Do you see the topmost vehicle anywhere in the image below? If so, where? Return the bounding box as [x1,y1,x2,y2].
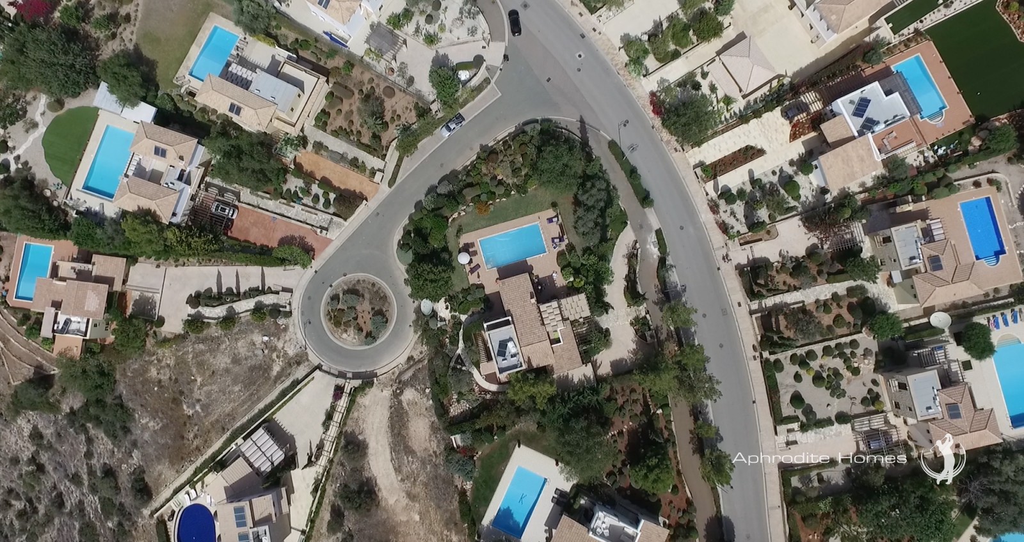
[507,8,522,37]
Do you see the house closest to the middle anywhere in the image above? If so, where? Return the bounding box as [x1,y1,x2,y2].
[480,272,584,375]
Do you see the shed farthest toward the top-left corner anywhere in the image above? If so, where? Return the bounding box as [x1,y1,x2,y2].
[94,83,132,114]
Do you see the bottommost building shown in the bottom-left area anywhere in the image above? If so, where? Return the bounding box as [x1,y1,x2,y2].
[204,458,293,542]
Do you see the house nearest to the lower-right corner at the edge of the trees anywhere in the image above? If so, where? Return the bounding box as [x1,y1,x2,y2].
[886,363,1003,454]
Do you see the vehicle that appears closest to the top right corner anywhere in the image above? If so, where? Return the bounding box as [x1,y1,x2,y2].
[780,99,808,120]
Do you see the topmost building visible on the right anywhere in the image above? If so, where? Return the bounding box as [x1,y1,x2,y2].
[785,0,893,50]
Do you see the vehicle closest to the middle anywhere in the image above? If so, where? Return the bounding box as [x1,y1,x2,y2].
[438,110,468,137]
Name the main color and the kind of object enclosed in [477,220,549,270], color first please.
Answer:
blue swimming pool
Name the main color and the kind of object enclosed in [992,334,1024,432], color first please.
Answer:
blue swimming pool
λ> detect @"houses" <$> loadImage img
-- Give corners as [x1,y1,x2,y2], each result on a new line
[543,499,669,542]
[812,81,924,191]
[194,59,333,135]
[886,363,1003,454]
[867,221,987,307]
[480,272,584,375]
[785,0,893,50]
[31,254,134,357]
[204,458,293,542]
[112,120,211,224]
[302,0,390,35]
